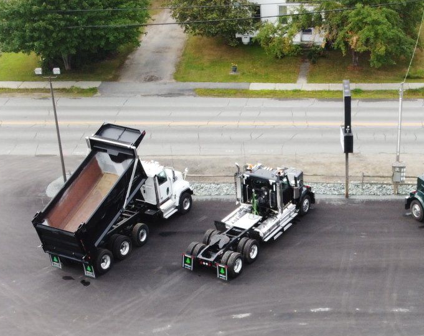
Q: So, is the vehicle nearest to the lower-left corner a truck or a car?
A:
truck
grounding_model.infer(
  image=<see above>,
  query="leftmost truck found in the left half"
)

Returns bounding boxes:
[27,119,195,276]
